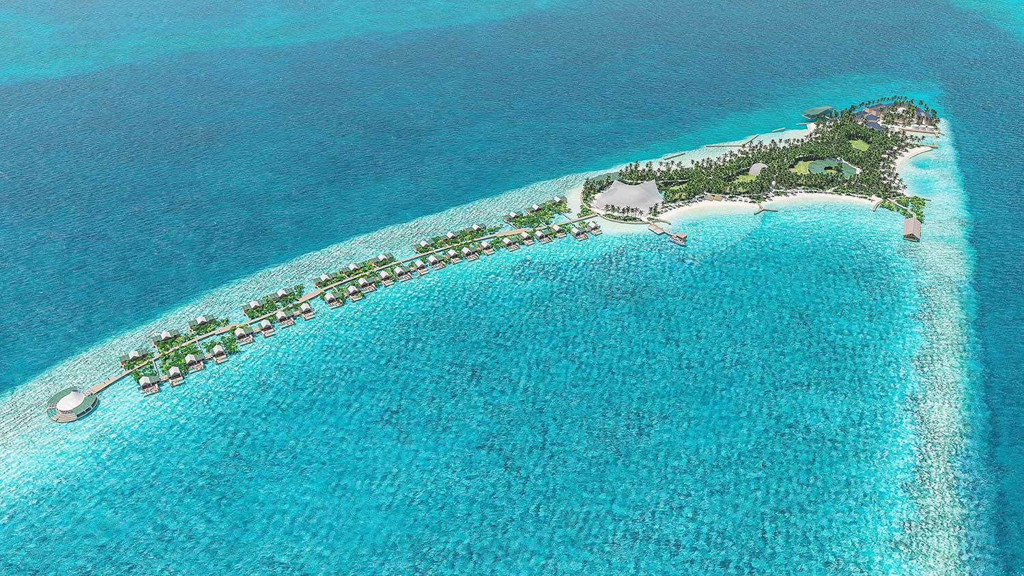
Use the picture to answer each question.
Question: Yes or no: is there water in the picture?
Yes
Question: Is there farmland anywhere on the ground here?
No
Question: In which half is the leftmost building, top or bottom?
bottom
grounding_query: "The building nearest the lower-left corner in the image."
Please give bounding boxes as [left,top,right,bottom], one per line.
[45,383,98,424]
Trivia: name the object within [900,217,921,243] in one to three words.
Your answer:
building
